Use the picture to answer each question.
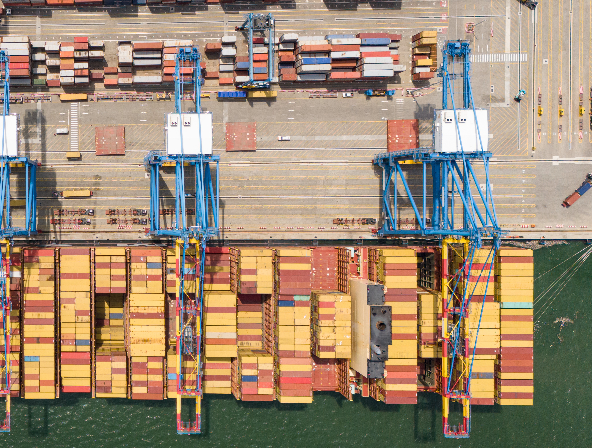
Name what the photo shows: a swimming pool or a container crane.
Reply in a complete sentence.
There is a container crane in the scene.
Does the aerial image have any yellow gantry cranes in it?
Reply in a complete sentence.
No, there is no yellow gantry crane in the image.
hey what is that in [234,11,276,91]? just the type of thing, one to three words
container crane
